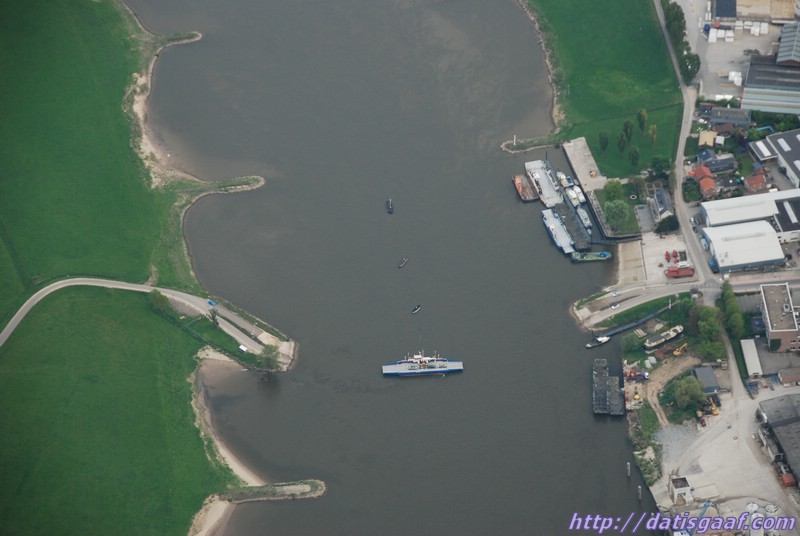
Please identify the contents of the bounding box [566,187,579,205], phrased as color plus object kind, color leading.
white boat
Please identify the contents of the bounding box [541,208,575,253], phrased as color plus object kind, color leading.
white ship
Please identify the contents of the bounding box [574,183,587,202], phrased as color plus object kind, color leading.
white boat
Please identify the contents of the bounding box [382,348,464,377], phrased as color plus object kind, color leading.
white ship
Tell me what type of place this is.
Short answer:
port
